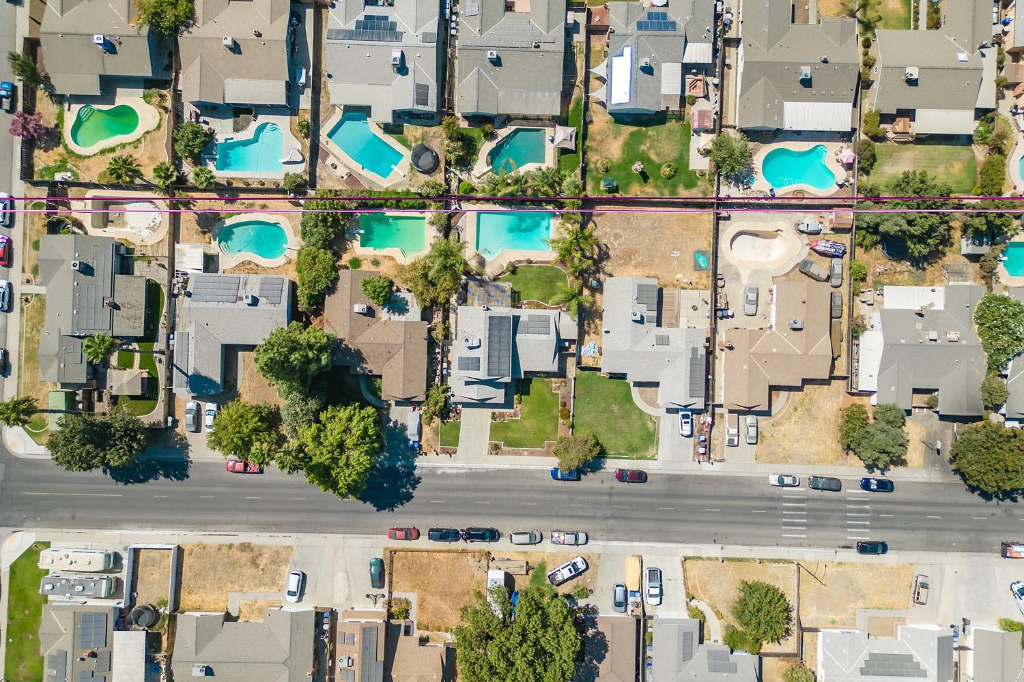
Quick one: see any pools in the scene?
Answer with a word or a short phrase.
Yes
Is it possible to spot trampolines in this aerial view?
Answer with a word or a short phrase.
Yes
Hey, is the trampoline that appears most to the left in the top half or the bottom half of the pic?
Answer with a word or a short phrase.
bottom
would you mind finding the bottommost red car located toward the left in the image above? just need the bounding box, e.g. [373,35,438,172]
[388,526,420,541]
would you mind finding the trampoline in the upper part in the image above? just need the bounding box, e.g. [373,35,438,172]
[410,143,439,174]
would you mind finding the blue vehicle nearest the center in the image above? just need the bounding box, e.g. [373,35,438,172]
[548,467,579,481]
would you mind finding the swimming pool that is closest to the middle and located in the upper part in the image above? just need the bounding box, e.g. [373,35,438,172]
[474,212,553,263]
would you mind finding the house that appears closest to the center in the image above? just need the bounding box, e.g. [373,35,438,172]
[450,304,578,405]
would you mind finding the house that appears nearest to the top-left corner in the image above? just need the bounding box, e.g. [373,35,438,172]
[41,0,159,100]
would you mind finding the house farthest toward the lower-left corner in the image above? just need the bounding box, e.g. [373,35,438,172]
[34,601,153,682]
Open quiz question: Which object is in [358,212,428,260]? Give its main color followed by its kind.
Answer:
green swimming pool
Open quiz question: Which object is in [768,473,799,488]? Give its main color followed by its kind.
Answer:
white car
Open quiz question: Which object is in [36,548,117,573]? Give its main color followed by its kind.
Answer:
white camper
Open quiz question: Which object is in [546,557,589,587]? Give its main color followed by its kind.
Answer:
white truck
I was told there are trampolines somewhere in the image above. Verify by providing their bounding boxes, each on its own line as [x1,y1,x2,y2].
[127,600,160,632]
[410,143,439,174]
